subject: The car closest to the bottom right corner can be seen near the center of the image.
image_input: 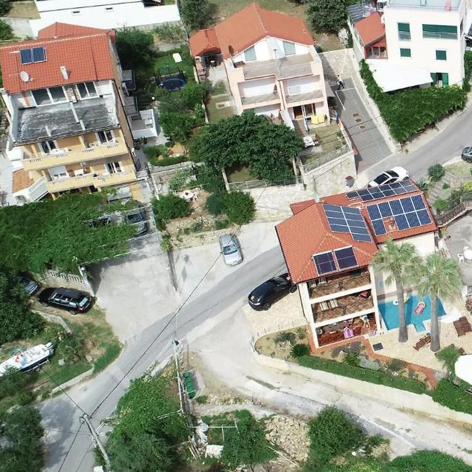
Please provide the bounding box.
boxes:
[243,265,295,305]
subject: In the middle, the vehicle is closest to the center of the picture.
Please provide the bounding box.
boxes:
[216,226,242,262]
